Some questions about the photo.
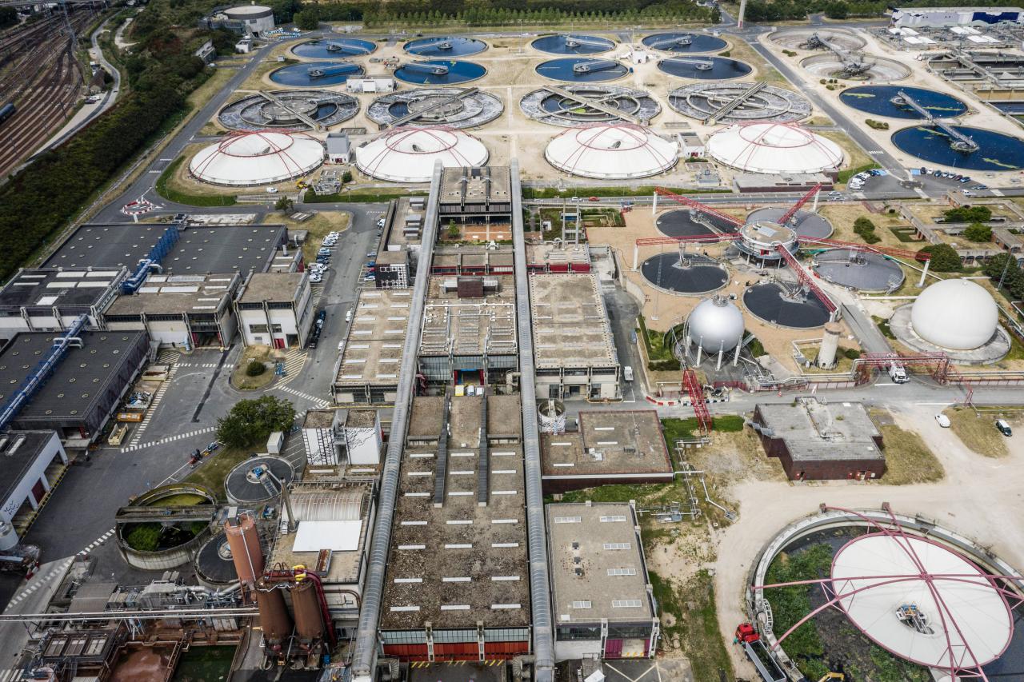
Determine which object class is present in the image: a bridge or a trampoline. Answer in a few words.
bridge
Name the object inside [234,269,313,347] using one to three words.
house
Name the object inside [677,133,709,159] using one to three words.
house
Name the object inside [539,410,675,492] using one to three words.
building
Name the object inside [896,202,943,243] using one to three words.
building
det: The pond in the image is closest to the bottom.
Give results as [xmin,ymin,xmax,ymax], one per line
[741,501,1024,682]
